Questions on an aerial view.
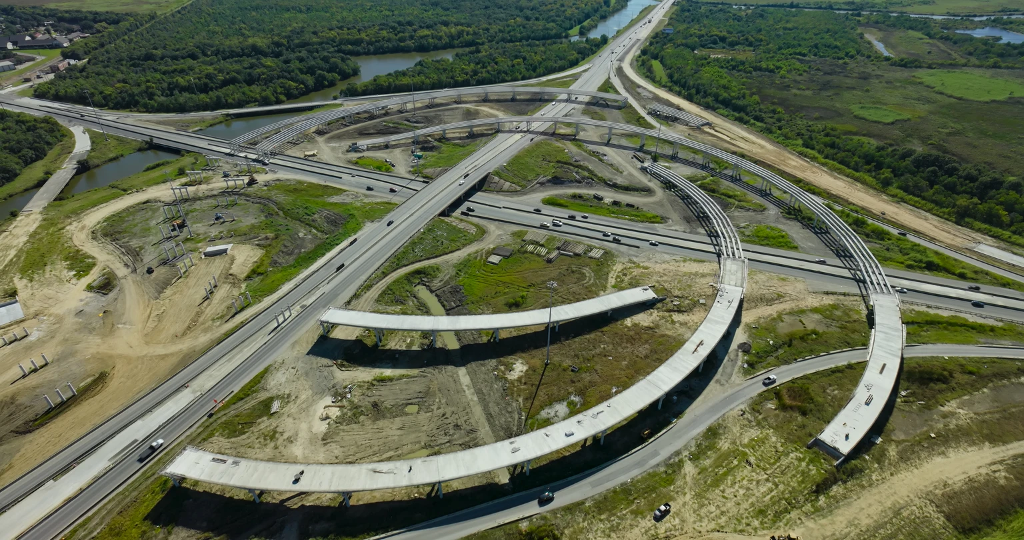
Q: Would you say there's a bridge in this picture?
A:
Yes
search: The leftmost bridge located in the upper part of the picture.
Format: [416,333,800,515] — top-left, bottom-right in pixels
[15,165,79,218]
